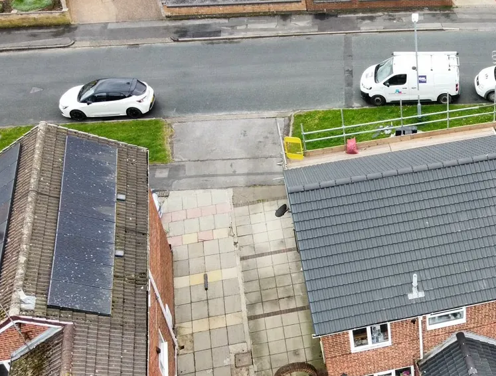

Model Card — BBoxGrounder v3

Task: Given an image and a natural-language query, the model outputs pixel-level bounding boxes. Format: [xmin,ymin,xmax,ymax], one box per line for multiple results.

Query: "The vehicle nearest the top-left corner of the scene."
[57,76,155,119]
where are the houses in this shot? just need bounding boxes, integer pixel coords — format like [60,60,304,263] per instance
[282,132,496,376]
[0,125,180,376]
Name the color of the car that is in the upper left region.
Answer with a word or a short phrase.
white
